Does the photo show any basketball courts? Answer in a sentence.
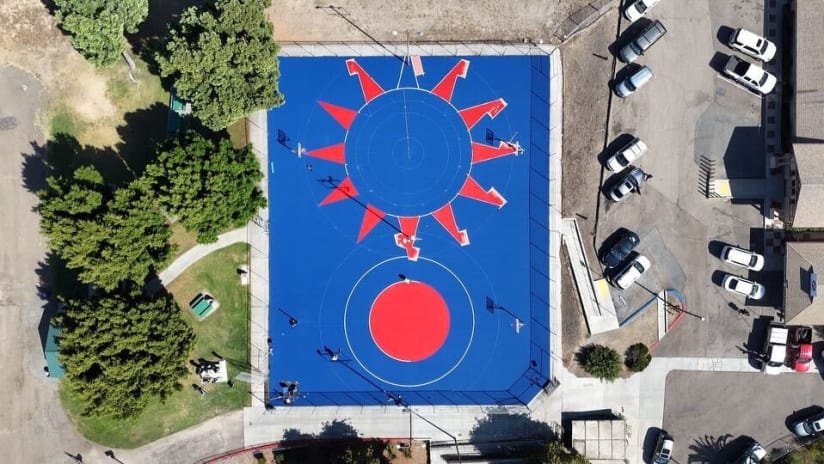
Yes, there is a basketball court in the image.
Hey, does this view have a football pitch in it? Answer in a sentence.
No, the photo shows no football pitch.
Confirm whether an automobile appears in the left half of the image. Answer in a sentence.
No, I see no automobile in the left half of the image.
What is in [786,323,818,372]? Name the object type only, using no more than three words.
vehicle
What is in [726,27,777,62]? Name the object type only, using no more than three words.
car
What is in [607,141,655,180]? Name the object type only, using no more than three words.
car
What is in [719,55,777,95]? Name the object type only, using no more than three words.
vehicle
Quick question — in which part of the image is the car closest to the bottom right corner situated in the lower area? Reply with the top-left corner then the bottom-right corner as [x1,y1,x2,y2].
[790,408,824,438]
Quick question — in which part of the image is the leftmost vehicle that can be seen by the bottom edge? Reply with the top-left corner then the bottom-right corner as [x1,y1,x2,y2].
[649,432,680,464]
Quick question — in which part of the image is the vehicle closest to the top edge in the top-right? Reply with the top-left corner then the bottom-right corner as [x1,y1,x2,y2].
[623,0,666,23]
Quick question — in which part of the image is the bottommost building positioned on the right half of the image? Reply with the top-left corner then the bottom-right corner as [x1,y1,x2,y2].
[778,242,824,324]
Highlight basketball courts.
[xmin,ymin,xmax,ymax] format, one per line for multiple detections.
[268,56,550,405]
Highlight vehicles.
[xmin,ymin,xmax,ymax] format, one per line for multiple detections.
[623,0,666,23]
[605,234,648,273]
[612,64,654,100]
[723,436,768,464]
[618,21,669,65]
[786,323,818,372]
[614,258,658,297]
[608,175,653,212]
[649,432,680,464]
[607,141,655,180]
[719,55,777,95]
[758,320,791,375]
[726,27,777,62]
[790,408,824,438]
[721,248,771,276]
